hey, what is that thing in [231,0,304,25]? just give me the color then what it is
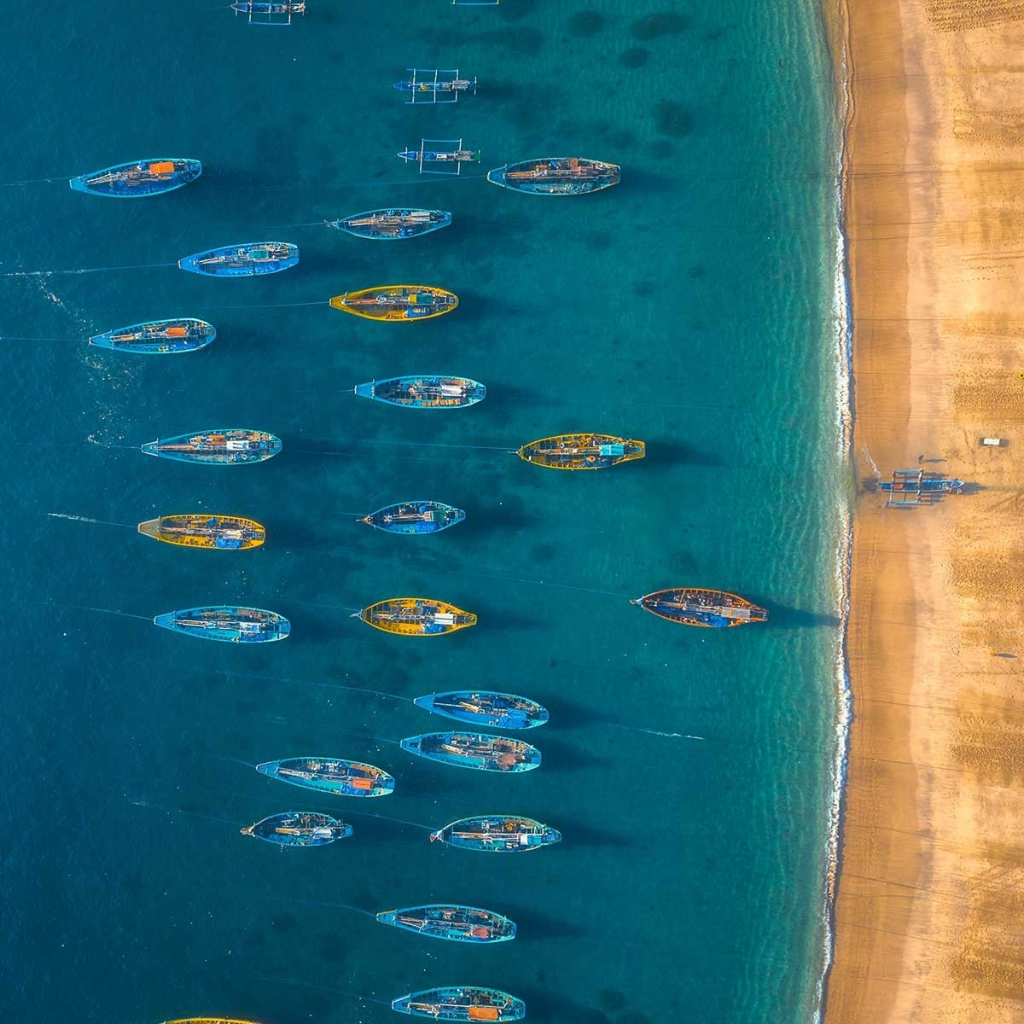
blue boat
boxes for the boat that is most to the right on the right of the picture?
[877,469,964,504]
